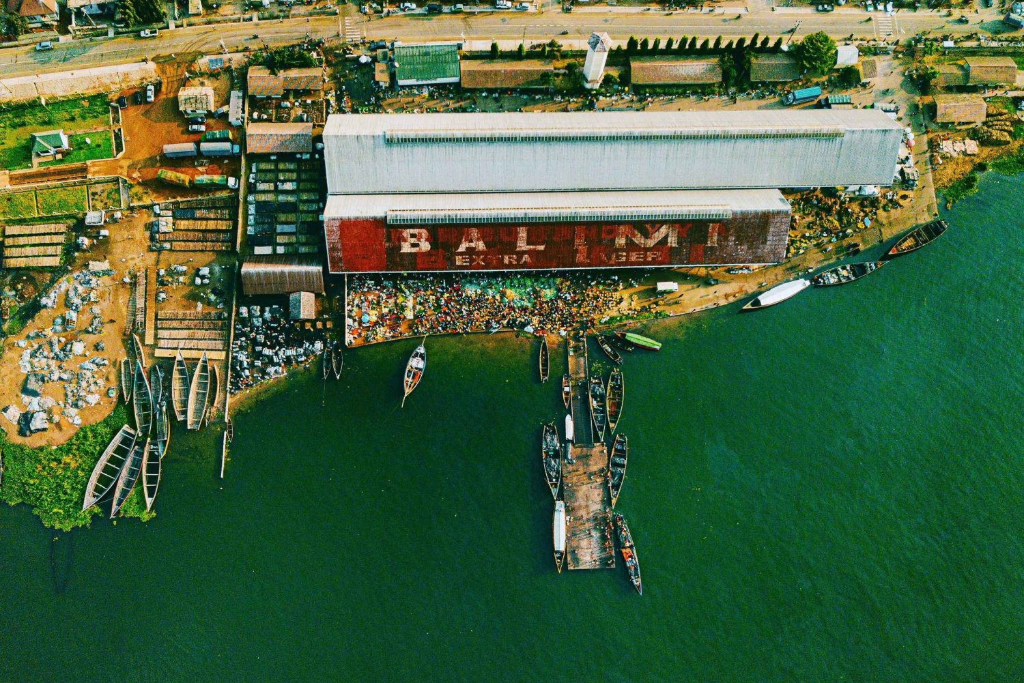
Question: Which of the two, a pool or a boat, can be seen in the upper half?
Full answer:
The feature located in the upper half is a boat.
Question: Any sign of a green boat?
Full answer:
Yes, there's a green boat here.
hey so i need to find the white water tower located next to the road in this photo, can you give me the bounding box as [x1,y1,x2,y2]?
[582,32,614,92]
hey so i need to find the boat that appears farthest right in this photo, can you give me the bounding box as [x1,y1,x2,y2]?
[886,219,951,256]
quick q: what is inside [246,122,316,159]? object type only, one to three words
shed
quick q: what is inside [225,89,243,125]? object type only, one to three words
vehicle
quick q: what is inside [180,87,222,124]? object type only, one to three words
house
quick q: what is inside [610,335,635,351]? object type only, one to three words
boat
